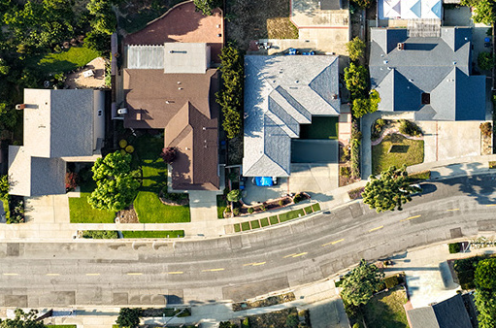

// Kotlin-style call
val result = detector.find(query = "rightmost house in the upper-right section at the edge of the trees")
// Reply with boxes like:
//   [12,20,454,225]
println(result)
[368,27,487,122]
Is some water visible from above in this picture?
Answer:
No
